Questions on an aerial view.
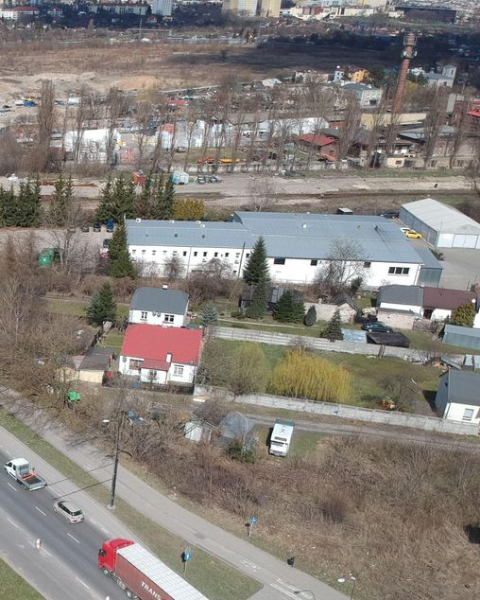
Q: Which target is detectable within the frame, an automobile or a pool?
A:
automobile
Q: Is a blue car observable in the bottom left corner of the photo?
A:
No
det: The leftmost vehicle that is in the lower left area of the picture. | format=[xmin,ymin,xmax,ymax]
[2,453,53,492]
